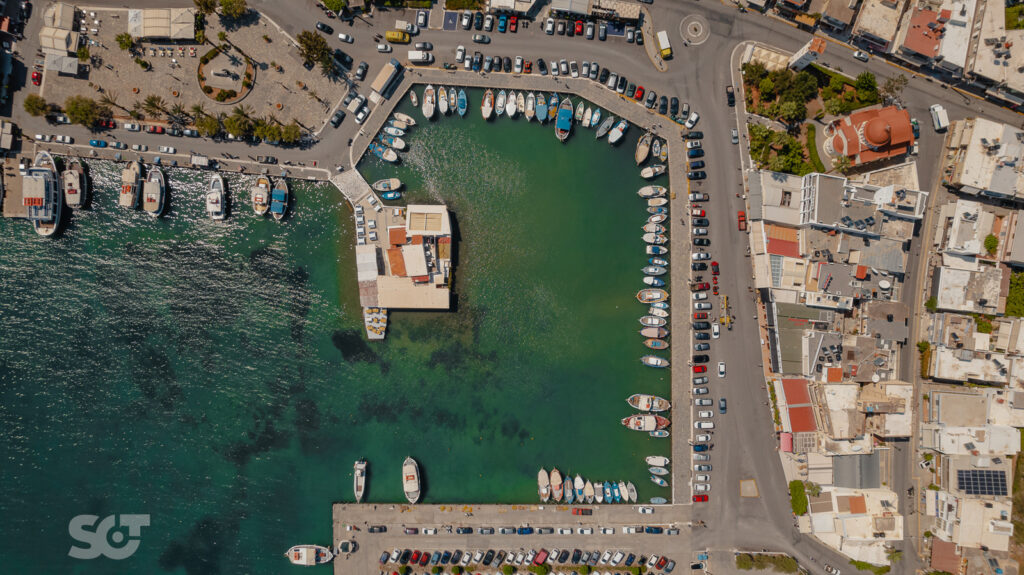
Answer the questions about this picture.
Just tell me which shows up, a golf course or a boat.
boat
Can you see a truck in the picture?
Yes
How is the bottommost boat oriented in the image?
from side to side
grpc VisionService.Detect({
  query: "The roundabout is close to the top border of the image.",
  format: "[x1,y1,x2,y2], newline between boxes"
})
[680,14,710,45]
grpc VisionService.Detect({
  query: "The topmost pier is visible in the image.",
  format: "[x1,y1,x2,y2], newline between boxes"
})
[365,308,387,339]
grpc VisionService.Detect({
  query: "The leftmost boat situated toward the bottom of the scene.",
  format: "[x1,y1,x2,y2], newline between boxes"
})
[284,544,332,566]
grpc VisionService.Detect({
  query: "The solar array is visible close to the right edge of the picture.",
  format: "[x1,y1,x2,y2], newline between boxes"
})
[957,470,1007,495]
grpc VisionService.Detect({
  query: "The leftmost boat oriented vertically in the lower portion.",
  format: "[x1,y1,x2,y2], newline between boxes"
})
[354,459,366,503]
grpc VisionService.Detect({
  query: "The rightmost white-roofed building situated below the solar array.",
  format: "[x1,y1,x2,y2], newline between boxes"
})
[951,494,1017,551]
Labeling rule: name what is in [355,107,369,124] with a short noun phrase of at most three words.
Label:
car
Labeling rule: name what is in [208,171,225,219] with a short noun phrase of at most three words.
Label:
boat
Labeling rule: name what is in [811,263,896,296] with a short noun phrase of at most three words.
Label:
building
